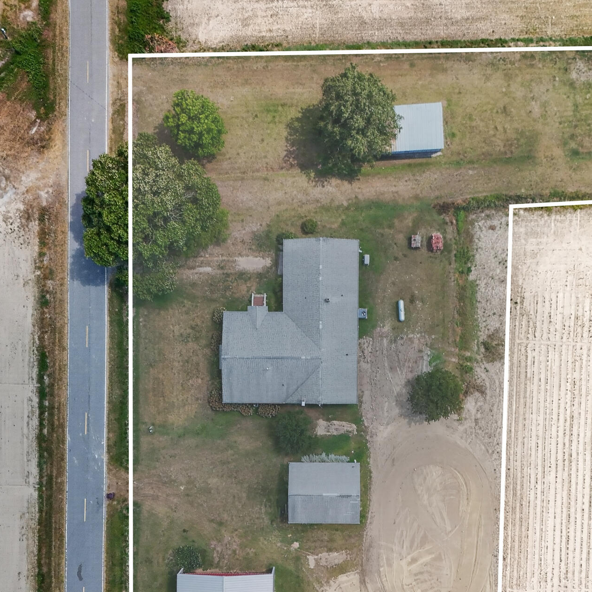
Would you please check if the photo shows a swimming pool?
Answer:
No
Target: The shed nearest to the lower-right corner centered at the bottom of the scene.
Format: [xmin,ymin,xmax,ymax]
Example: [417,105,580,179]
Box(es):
[287,461,361,524]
